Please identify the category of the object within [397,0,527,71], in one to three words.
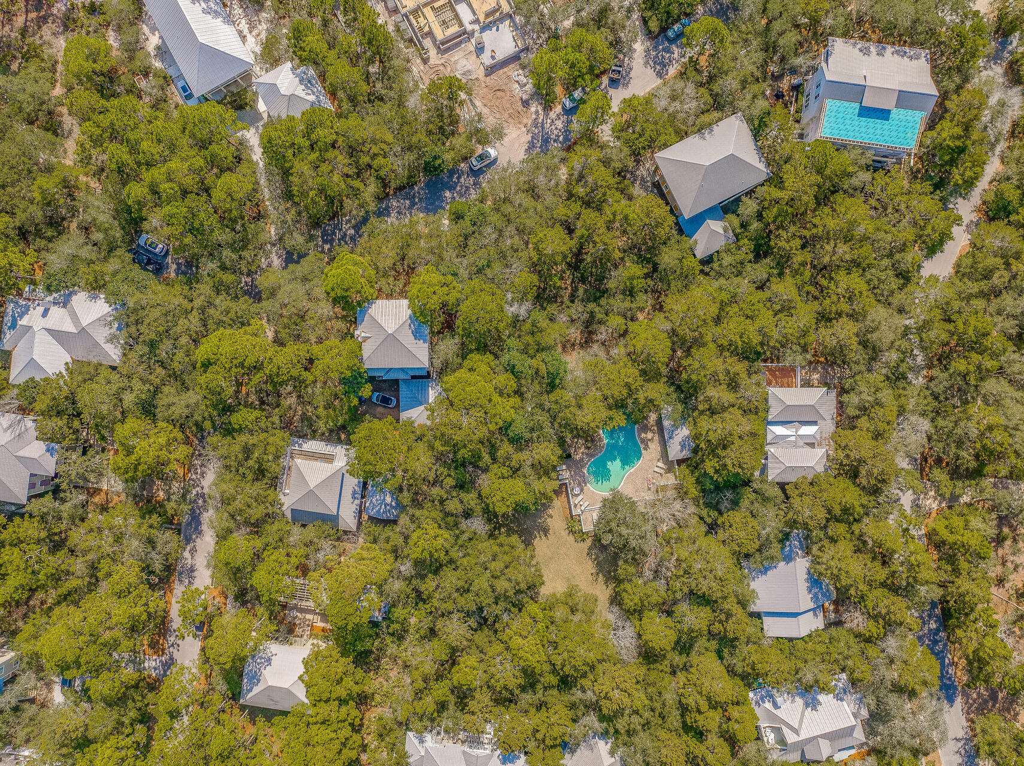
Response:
house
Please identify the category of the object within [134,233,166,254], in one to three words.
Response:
car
